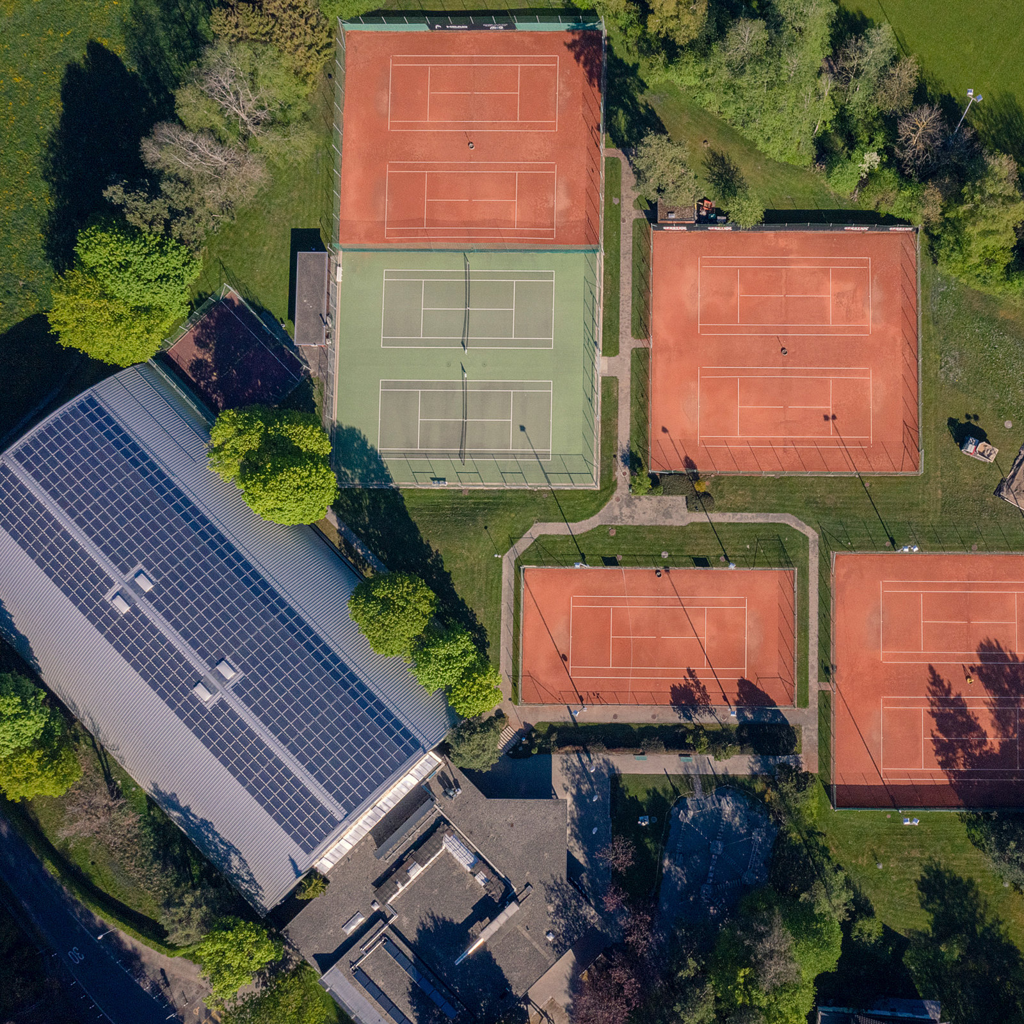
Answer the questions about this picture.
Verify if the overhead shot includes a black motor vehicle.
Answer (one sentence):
No, I find no black motor vehicle anywhere in the image.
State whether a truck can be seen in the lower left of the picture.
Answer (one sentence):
No, there is no truck in the lower left of the picture.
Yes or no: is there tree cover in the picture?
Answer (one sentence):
Yes, the picture does contain tree cover.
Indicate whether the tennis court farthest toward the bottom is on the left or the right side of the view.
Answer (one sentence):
The tennis court farthest toward the bottom appears in the right half of the scene.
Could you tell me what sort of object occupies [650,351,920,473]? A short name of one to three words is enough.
tennis court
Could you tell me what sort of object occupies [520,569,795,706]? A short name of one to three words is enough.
tennis court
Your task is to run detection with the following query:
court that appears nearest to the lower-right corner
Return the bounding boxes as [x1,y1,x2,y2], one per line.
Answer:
[833,680,1024,810]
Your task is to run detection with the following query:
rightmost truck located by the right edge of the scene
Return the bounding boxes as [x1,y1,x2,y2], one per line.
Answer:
[961,435,999,461]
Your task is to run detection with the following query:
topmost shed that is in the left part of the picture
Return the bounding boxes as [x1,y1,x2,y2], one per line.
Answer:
[294,251,333,347]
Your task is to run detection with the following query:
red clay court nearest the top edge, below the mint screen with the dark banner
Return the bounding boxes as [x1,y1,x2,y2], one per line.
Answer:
[342,30,603,147]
